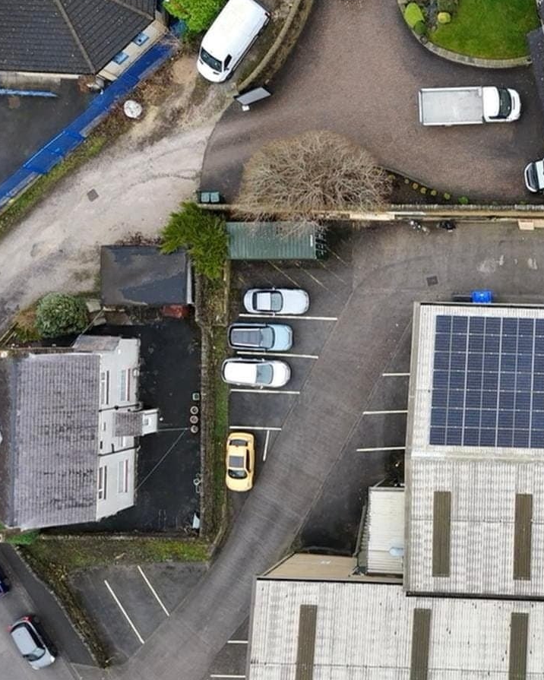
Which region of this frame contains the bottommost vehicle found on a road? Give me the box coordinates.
[6,611,59,671]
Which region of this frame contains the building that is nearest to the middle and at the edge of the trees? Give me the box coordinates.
[101,244,209,307]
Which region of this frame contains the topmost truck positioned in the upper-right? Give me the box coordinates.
[418,85,519,127]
